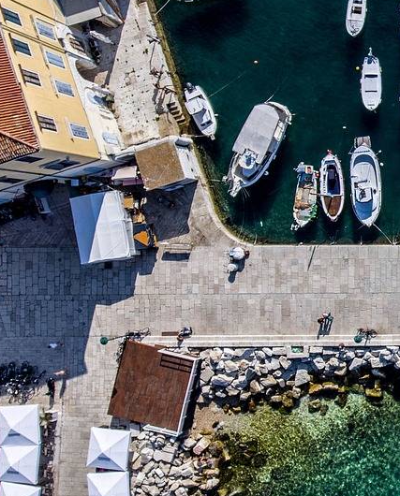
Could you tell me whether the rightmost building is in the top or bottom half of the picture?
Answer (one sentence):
Seen from above, the rightmost building lies in the top half of the view.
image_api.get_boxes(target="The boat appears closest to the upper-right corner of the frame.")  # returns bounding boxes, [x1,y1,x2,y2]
[345,0,370,36]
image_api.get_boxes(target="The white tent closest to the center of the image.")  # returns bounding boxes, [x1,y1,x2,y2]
[70,188,142,264]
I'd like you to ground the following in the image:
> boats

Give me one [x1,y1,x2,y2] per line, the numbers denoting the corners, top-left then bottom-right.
[225,96,296,198]
[309,152,345,220]
[290,159,318,228]
[358,48,385,111]
[345,0,370,36]
[349,136,384,226]
[182,80,220,139]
